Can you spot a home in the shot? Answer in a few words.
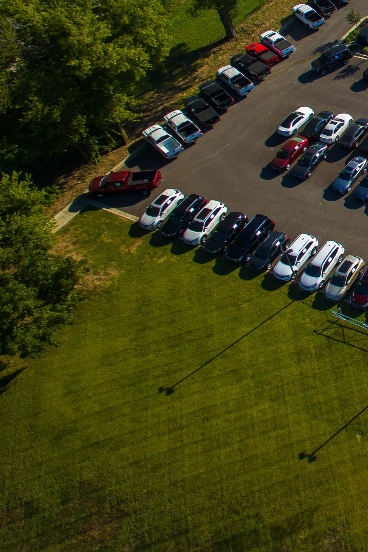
No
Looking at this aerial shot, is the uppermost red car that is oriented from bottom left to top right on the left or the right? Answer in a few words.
right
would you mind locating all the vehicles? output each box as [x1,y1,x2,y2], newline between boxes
[183,94,223,130]
[271,135,310,174]
[331,156,368,198]
[204,211,249,256]
[162,194,209,238]
[164,108,205,147]
[298,241,346,294]
[226,209,279,264]
[299,112,337,146]
[306,0,340,19]
[199,79,238,115]
[272,232,321,285]
[249,229,293,274]
[337,117,368,153]
[95,172,160,199]
[182,201,230,246]
[309,42,355,75]
[217,66,255,99]
[357,136,368,159]
[233,53,270,85]
[139,188,187,231]
[247,39,283,70]
[291,142,331,182]
[145,123,186,163]
[275,107,317,141]
[323,254,368,304]
[261,30,298,60]
[292,3,327,31]
[317,113,356,147]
